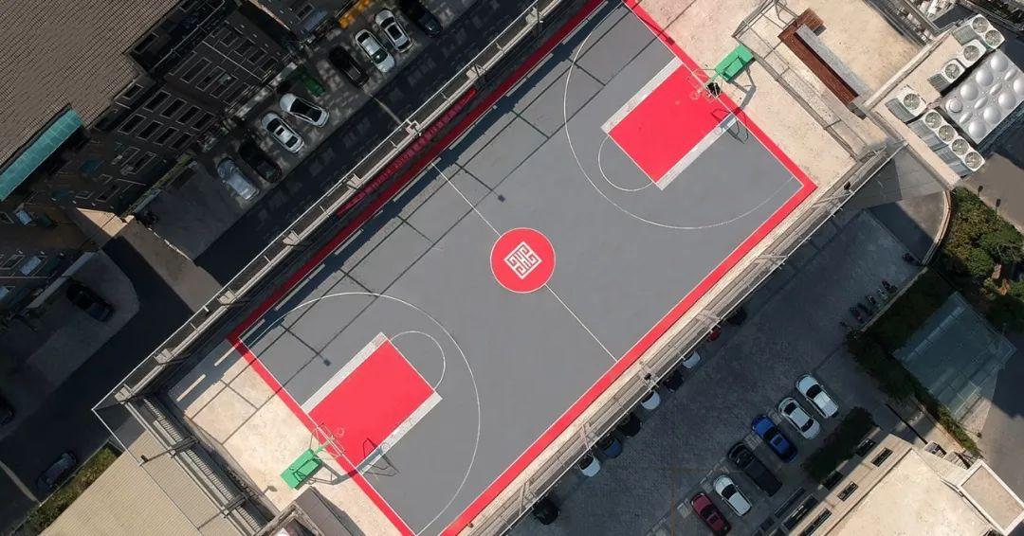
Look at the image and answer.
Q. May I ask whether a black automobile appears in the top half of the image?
Yes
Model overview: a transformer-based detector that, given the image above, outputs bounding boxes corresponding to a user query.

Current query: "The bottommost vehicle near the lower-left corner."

[30,449,83,495]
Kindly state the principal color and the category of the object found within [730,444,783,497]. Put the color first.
black car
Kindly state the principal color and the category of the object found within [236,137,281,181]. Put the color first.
black car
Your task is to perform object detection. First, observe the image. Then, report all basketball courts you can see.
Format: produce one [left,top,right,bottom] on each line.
[224,0,819,536]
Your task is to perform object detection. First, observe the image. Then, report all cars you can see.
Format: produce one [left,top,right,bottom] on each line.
[686,492,735,536]
[611,405,644,440]
[259,112,306,153]
[572,445,601,478]
[279,91,329,129]
[634,386,665,415]
[710,473,754,519]
[793,372,842,420]
[236,137,281,181]
[751,415,800,464]
[775,394,823,444]
[722,299,754,332]
[30,449,83,495]
[528,486,559,523]
[353,29,397,75]
[65,284,117,322]
[397,0,440,36]
[327,44,371,88]
[700,321,726,348]
[655,361,688,397]
[730,444,783,497]
[374,10,415,50]
[214,158,259,203]
[676,343,707,375]
[594,425,625,459]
